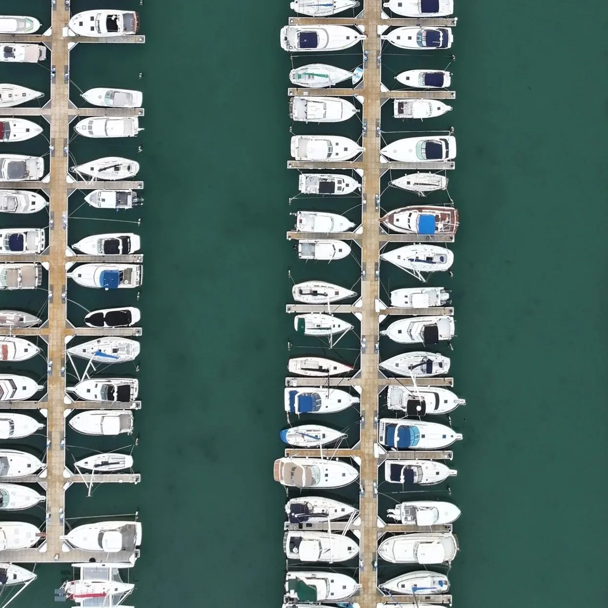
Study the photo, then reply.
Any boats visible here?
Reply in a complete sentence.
Yes, the picture does show a boat.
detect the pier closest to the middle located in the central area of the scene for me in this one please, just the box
[285,293,362,324]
